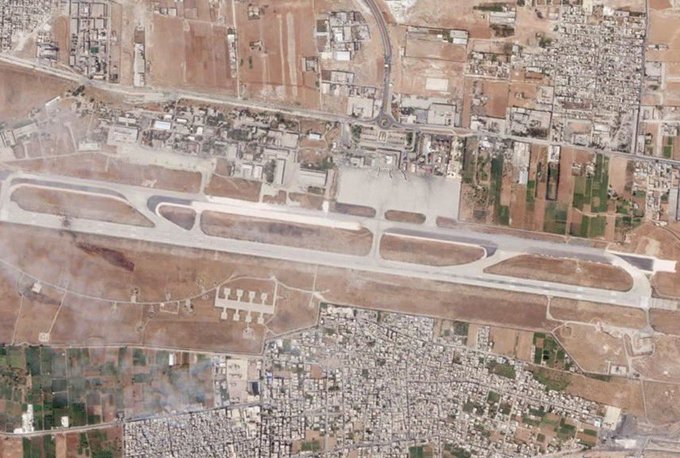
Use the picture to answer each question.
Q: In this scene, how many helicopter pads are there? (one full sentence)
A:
The count of helicopter pads is 0.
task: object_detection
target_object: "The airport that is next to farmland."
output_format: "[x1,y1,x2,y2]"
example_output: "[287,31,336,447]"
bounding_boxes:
[0,123,680,350]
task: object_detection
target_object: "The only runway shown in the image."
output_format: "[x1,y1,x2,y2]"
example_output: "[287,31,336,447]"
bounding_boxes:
[0,210,649,307]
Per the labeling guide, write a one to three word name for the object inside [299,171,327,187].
hangar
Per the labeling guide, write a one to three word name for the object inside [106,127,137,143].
hangar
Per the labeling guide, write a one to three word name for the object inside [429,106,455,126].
building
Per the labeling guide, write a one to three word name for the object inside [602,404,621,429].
building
